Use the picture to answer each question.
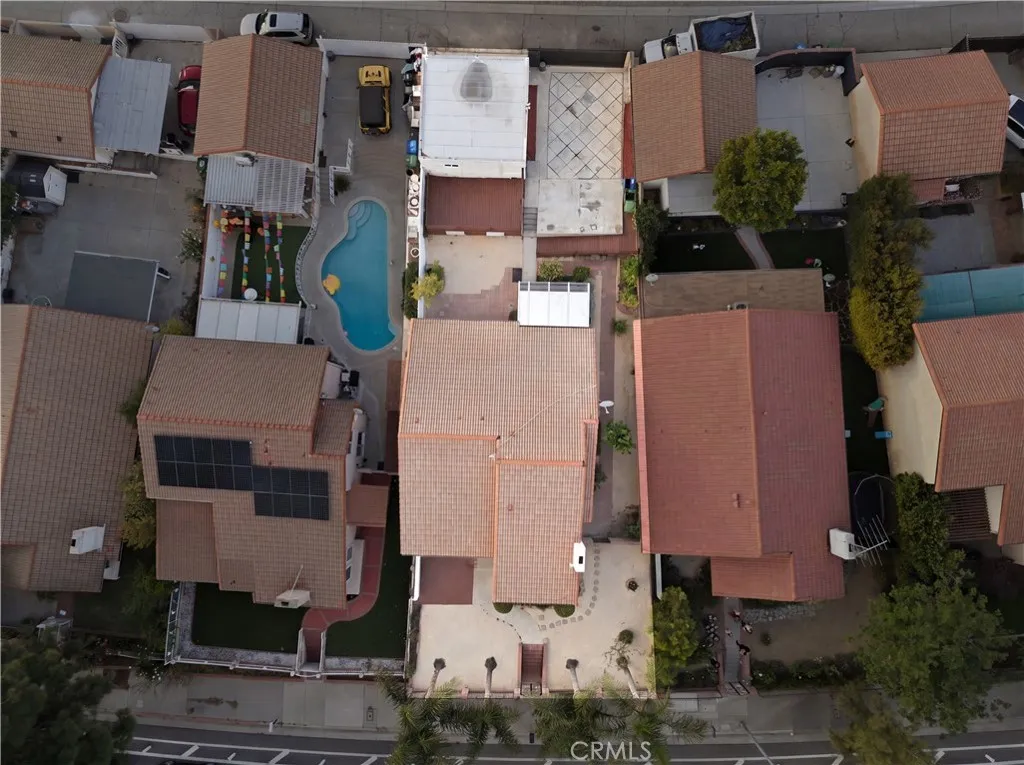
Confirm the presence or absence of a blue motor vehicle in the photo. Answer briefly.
No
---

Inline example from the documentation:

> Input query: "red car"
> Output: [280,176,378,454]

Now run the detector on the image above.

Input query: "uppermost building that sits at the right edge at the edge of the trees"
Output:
[845,49,1011,204]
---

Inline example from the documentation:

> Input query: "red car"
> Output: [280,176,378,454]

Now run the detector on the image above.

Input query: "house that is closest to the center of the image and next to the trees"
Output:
[398,318,599,606]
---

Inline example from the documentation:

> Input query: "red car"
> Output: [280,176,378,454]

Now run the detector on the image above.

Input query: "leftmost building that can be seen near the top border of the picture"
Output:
[0,32,115,164]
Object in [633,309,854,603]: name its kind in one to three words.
house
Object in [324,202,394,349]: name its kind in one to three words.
swimming pool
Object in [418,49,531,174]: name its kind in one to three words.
building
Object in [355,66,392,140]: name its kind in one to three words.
car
